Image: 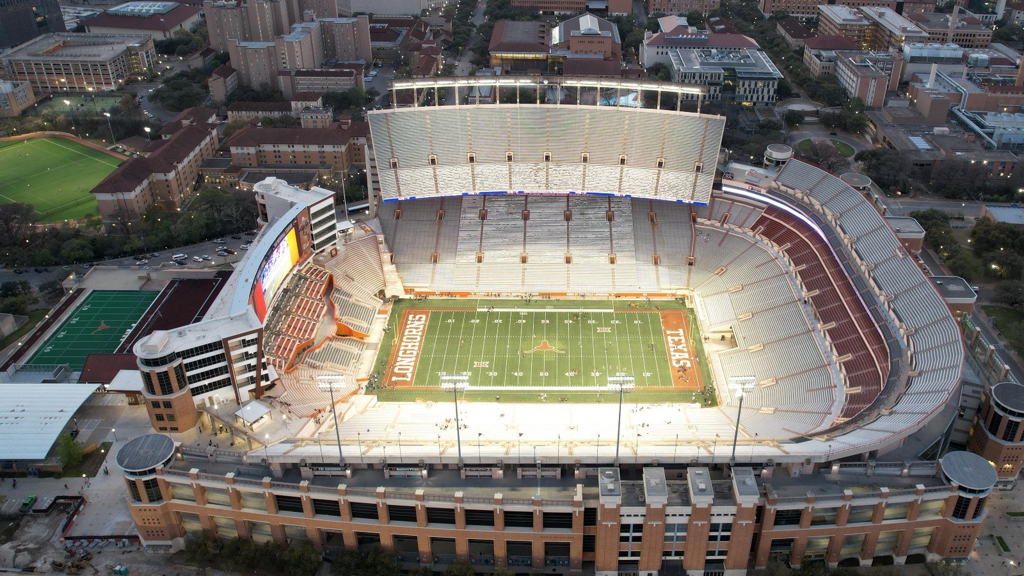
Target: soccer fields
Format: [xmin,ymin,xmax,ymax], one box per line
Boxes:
[0,134,122,222]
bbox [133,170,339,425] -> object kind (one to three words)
building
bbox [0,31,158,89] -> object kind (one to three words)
building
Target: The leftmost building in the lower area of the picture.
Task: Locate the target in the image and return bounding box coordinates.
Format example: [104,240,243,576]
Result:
[0,386,103,479]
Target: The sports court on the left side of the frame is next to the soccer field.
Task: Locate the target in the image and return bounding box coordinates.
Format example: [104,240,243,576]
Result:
[31,95,123,113]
